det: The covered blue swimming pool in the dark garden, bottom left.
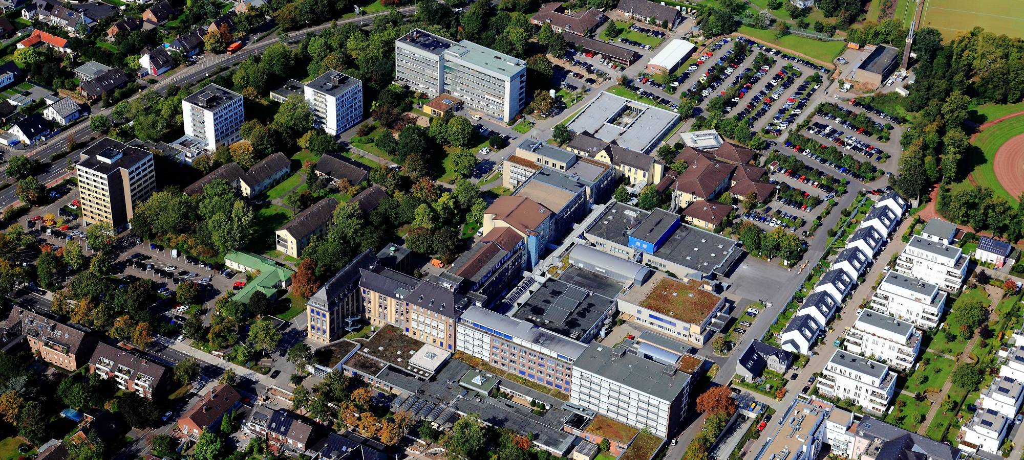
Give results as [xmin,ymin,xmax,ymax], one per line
[59,406,86,425]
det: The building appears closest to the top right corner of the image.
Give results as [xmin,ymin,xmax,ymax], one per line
[856,44,899,86]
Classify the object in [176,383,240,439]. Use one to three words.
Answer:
house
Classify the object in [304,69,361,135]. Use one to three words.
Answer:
building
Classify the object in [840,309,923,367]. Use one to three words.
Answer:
house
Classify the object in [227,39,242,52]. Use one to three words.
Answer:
vehicle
